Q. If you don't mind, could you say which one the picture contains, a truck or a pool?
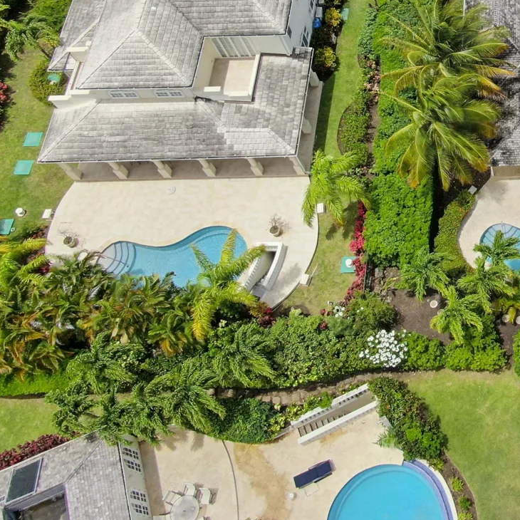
pool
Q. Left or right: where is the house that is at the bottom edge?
left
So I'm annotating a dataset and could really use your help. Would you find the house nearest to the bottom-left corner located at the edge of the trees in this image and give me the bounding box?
[0,435,145,520]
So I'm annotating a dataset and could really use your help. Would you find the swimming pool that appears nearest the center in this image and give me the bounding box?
[91,220,252,292]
